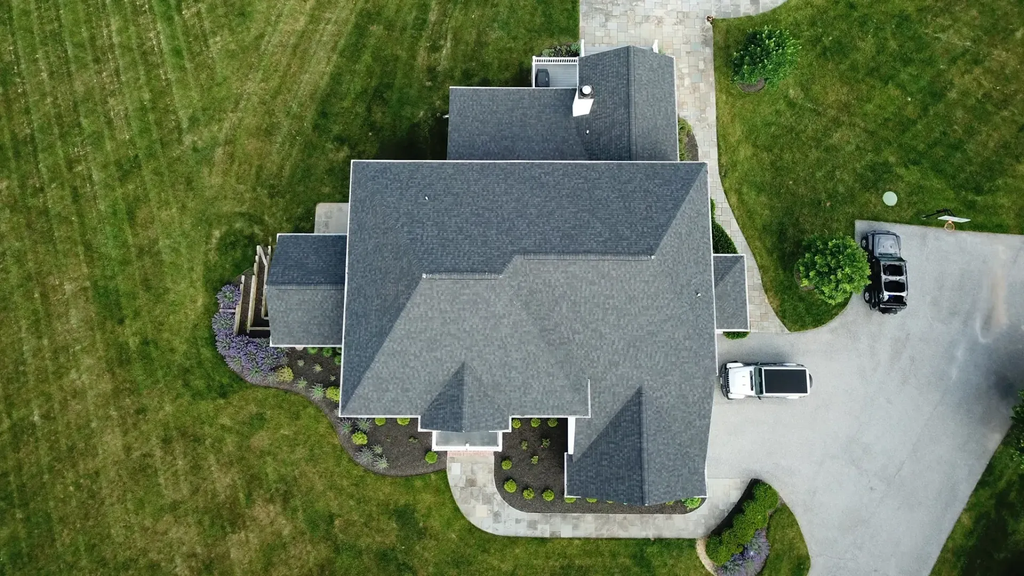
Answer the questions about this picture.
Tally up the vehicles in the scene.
2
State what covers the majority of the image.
grass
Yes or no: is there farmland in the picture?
No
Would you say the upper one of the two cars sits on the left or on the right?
right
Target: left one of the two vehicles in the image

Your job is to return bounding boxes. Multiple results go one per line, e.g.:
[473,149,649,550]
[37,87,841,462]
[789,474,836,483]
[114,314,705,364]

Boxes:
[718,359,813,399]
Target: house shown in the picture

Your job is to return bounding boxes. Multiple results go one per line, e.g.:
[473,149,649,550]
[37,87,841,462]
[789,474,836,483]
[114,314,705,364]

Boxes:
[266,39,749,506]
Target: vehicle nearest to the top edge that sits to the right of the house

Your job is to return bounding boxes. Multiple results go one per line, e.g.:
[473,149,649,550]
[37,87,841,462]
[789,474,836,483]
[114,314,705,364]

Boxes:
[859,229,910,313]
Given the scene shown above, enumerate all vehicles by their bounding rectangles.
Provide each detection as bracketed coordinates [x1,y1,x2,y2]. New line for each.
[859,229,910,313]
[718,359,813,399]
